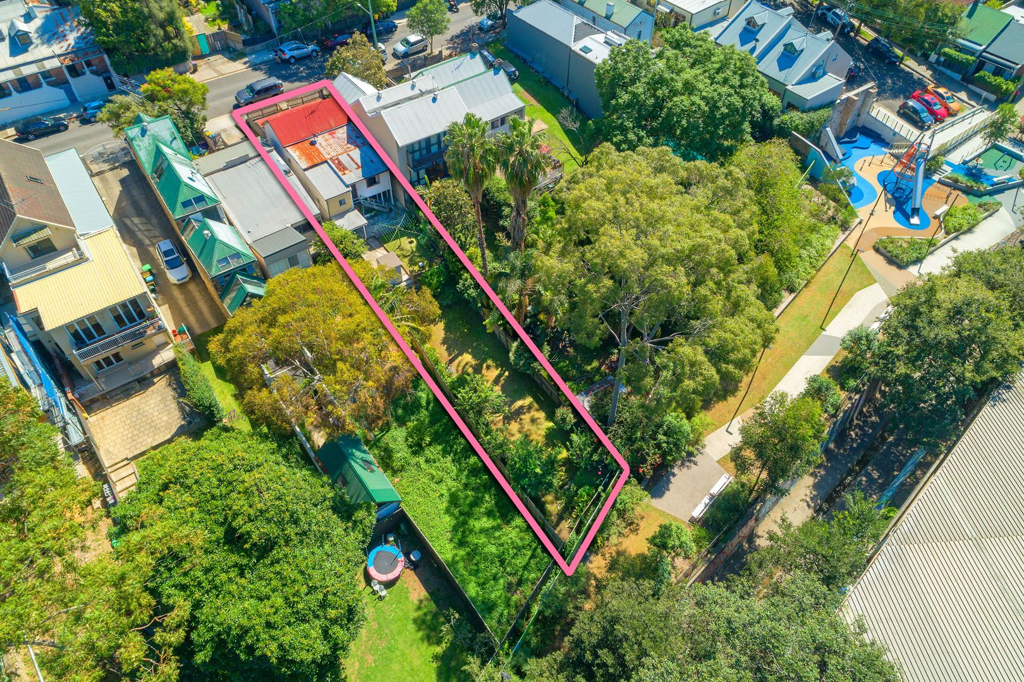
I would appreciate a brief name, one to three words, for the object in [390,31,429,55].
car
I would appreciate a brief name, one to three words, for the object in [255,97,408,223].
house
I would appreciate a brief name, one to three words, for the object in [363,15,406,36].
car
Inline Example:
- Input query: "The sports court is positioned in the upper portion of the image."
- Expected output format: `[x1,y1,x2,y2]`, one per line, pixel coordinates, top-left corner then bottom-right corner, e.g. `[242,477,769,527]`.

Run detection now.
[961,144,1024,196]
